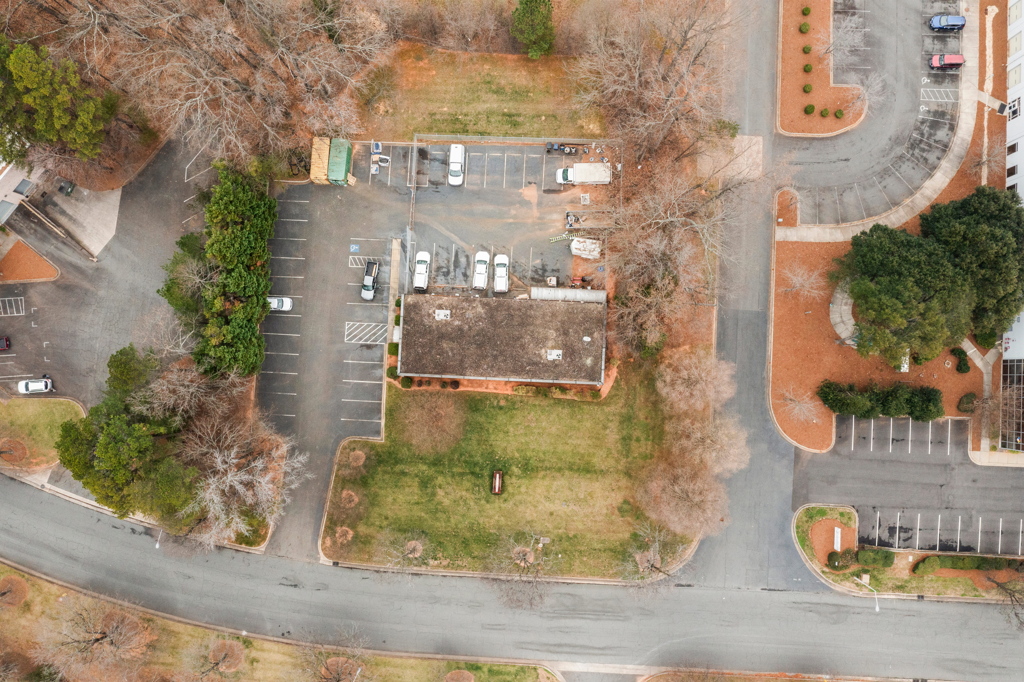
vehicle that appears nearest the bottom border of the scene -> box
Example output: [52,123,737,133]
[18,378,54,395]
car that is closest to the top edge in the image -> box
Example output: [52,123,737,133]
[928,13,965,32]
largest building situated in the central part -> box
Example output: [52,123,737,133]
[397,290,606,386]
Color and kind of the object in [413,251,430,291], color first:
white vehicle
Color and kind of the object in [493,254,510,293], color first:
white vehicle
